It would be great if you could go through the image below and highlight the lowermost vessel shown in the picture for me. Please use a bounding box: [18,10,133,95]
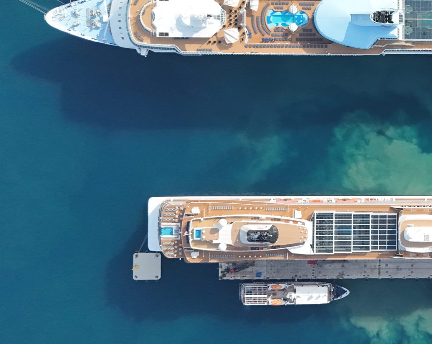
[239,282,350,307]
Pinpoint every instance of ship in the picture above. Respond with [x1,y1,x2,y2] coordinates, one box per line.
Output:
[239,282,350,307]
[149,191,432,263]
[42,0,432,56]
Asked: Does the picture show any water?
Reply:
Yes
